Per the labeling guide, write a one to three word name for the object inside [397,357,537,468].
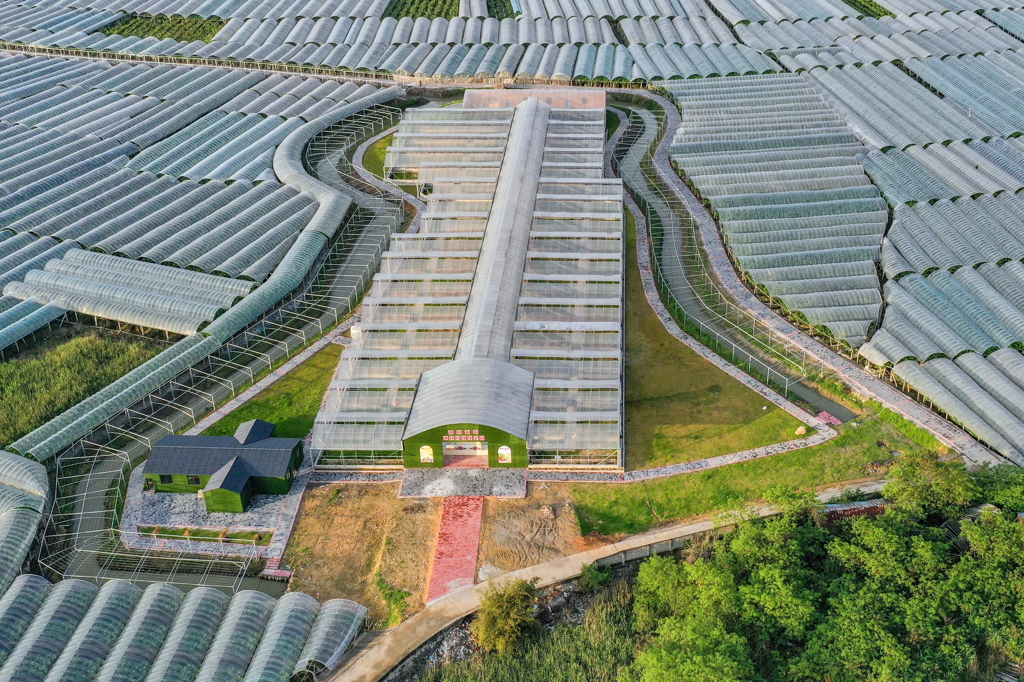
building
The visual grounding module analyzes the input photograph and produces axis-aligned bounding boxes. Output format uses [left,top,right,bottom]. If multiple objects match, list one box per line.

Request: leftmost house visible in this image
[136,416,302,512]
